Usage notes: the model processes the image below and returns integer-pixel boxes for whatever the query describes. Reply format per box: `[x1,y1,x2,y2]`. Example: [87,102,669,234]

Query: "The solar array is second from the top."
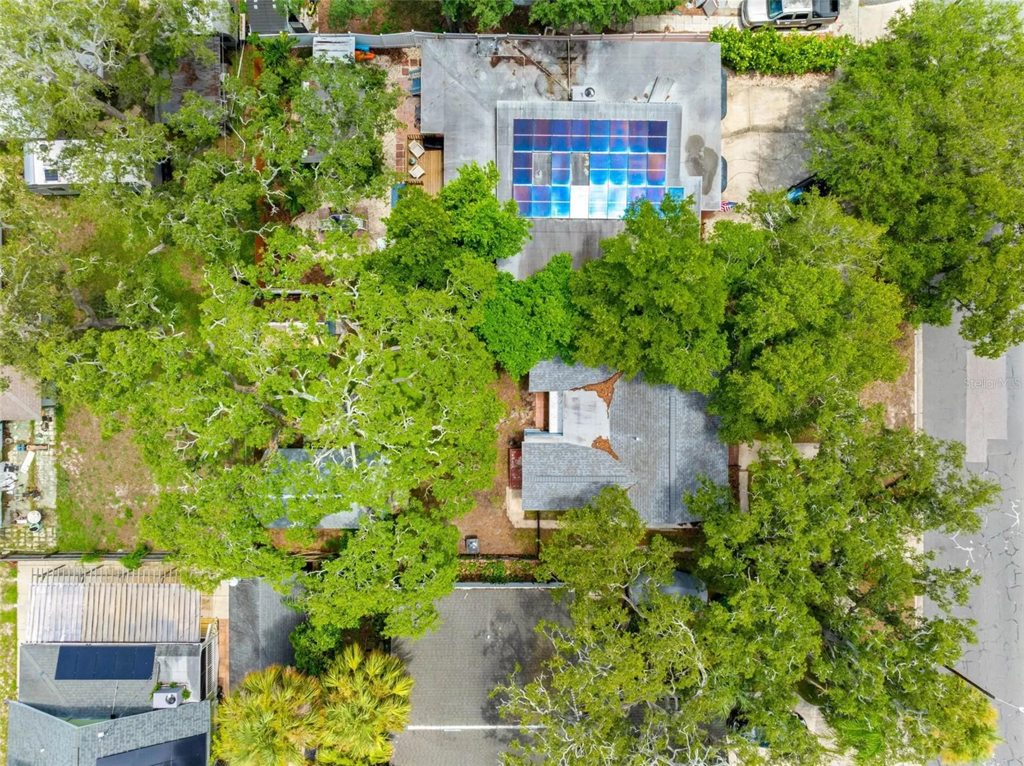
[55,646,155,680]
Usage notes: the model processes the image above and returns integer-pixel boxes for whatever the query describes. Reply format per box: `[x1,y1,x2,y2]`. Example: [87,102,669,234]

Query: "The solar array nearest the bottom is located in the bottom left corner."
[97,735,206,766]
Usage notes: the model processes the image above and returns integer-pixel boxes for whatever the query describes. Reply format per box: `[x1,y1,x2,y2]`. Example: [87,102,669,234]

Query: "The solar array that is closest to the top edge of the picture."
[514,118,686,220]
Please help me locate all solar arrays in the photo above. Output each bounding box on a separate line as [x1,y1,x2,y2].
[55,646,155,680]
[97,735,206,766]
[514,118,686,220]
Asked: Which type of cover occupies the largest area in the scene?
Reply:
trees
